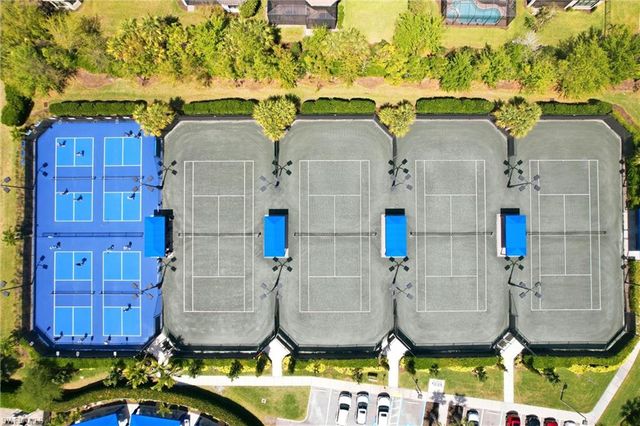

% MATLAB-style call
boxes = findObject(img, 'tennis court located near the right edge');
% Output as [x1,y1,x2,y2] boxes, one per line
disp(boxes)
[509,121,625,349]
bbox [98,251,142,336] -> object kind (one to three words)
sports court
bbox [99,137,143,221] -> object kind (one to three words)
sports court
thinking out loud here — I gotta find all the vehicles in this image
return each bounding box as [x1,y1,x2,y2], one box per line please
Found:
[544,420,558,426]
[337,394,352,426]
[466,412,482,426]
[356,394,371,426]
[376,395,392,426]
[506,414,522,426]
[526,418,540,426]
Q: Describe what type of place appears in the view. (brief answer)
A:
sports ground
